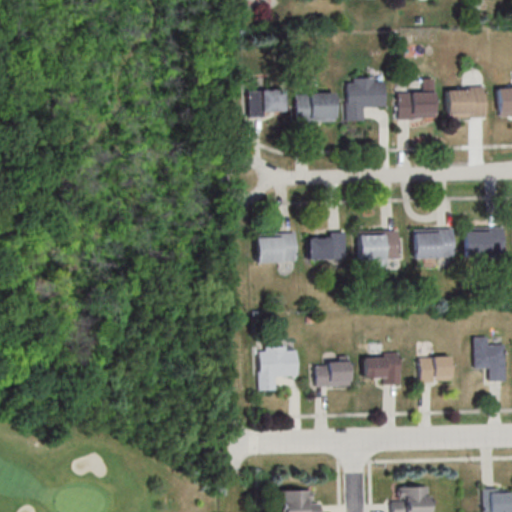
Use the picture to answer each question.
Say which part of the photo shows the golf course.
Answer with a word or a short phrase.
bottom left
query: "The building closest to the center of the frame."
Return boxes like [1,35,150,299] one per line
[259,232,299,264]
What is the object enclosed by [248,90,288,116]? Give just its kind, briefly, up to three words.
house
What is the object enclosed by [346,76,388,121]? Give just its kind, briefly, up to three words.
house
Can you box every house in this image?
[413,228,457,260]
[500,88,512,120]
[397,79,440,120]
[310,232,346,260]
[282,491,322,512]
[449,87,490,120]
[390,487,438,512]
[258,346,300,391]
[473,337,506,380]
[466,227,506,258]
[482,489,512,512]
[315,356,355,388]
[248,90,288,116]
[358,231,402,266]
[346,76,388,121]
[419,356,455,382]
[259,232,299,264]
[296,94,340,124]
